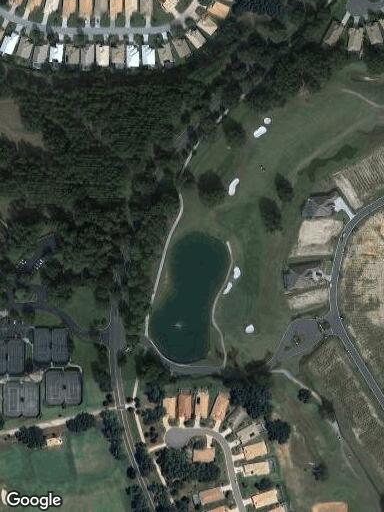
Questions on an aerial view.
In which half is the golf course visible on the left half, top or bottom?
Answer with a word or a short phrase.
bottom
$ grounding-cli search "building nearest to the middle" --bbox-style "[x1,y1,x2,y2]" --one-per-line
[282,264,319,291]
